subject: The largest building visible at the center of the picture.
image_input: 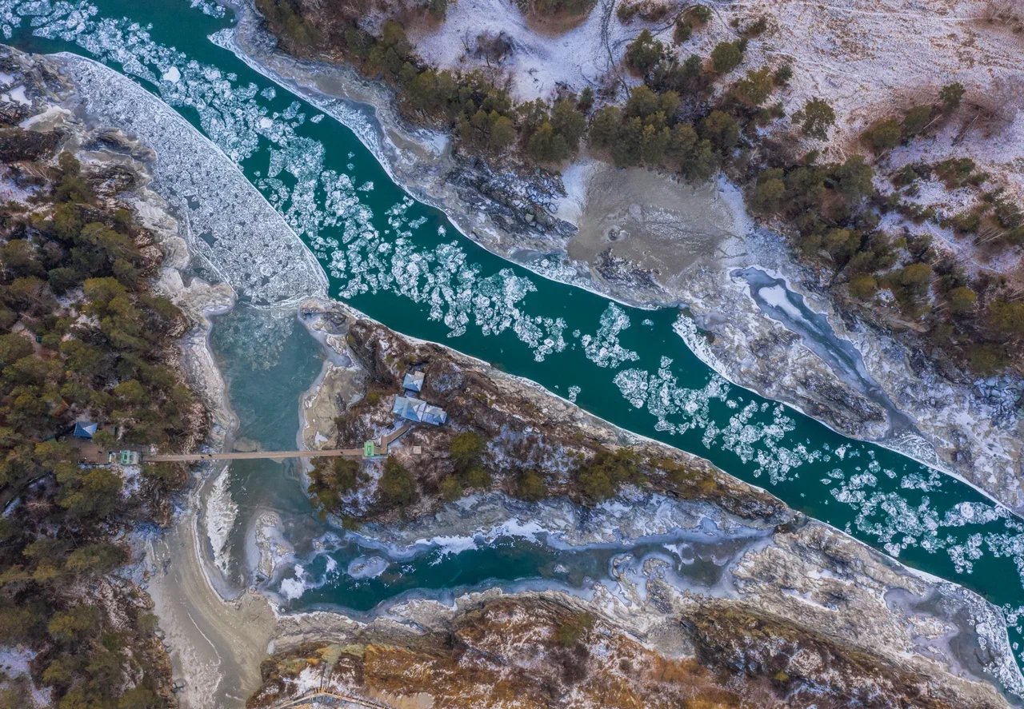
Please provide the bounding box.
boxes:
[393,397,449,429]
